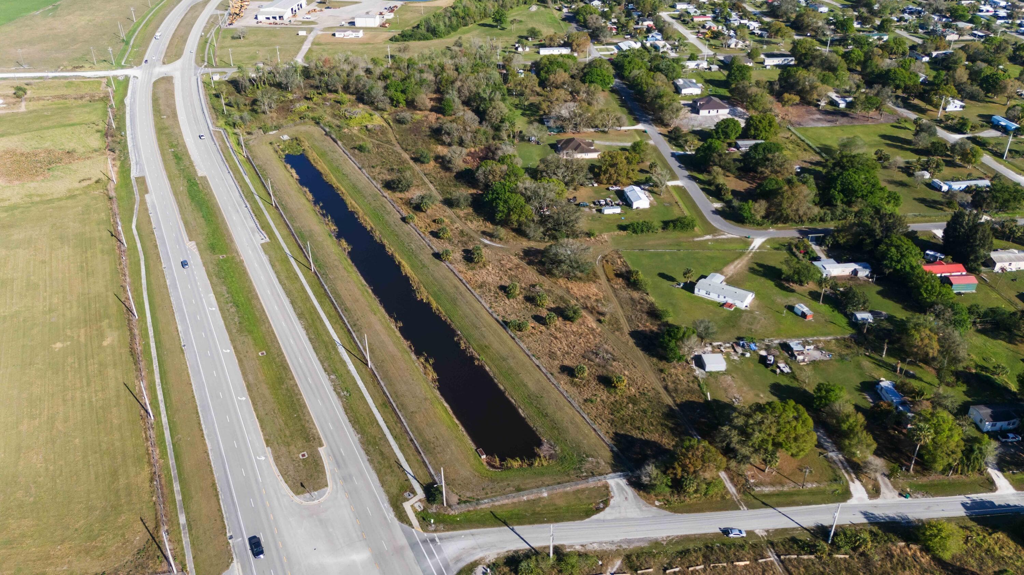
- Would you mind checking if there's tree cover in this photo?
Yes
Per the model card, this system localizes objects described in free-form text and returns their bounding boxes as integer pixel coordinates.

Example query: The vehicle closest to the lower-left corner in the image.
[250,533,262,554]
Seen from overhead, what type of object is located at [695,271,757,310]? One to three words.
house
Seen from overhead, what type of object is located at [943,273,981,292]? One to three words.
shed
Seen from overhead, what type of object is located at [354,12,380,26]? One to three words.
building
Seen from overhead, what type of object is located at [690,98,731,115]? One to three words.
house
